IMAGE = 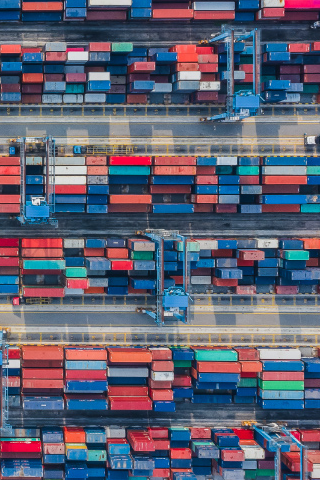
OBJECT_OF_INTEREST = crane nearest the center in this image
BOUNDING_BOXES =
[131,228,191,325]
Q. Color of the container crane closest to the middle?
blue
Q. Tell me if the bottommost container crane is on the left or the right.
right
